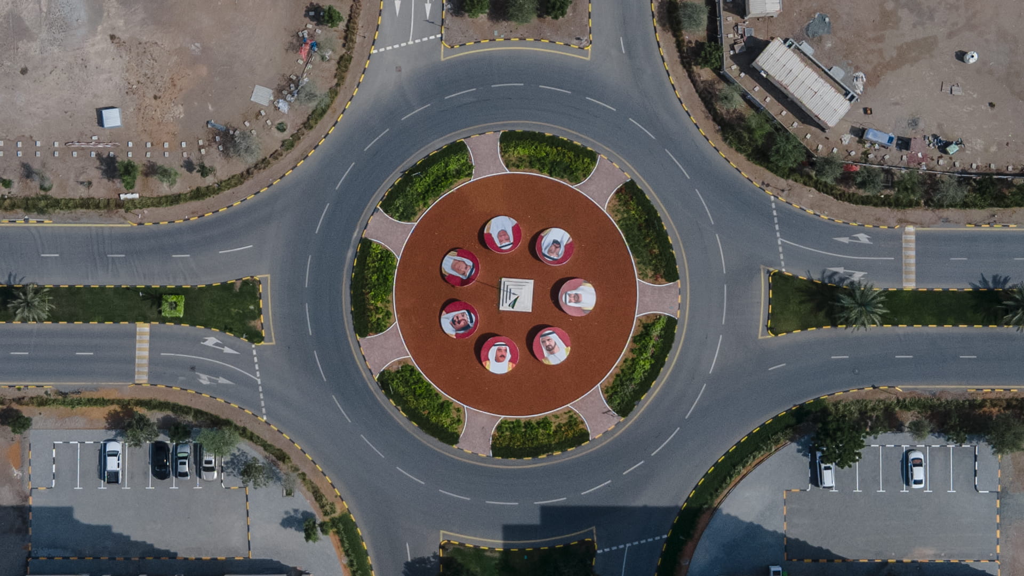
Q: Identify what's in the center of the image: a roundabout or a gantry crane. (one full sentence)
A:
There is a roundabout in the center of the image.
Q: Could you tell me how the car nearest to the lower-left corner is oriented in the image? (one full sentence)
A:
What the image shows is the car nearest to the lower-left corner lying vertically.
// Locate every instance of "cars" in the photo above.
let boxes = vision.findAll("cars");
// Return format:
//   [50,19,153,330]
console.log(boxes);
[174,442,192,481]
[907,449,925,489]
[199,441,218,482]
[103,439,123,484]
[815,445,834,489]
[150,440,171,481]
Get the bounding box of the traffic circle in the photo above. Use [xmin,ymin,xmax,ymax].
[273,52,758,537]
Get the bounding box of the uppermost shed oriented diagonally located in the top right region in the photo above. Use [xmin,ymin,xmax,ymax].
[752,38,851,129]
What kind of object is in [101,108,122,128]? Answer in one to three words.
building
